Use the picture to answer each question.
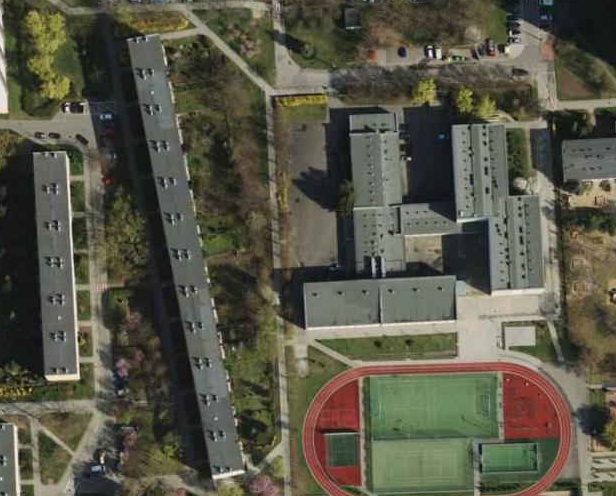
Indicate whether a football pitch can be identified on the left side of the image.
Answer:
No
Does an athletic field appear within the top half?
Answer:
No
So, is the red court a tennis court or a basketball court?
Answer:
basketball court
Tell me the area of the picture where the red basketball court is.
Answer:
bottom right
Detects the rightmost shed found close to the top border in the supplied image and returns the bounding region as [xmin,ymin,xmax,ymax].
[345,8,361,30]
